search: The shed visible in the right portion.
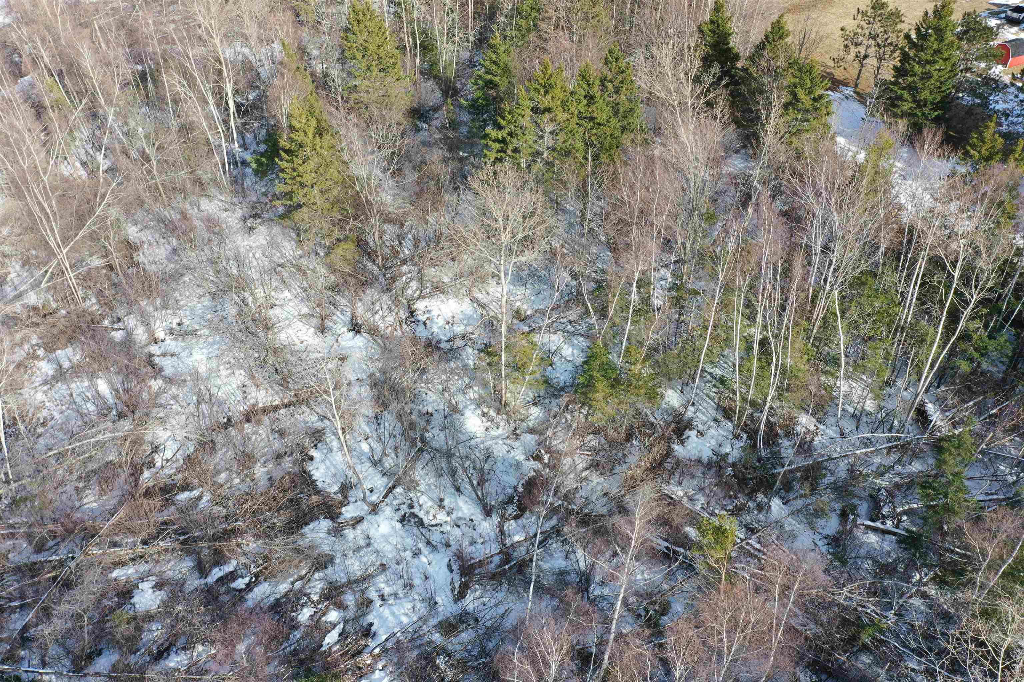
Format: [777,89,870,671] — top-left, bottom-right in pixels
[983,31,1024,67]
